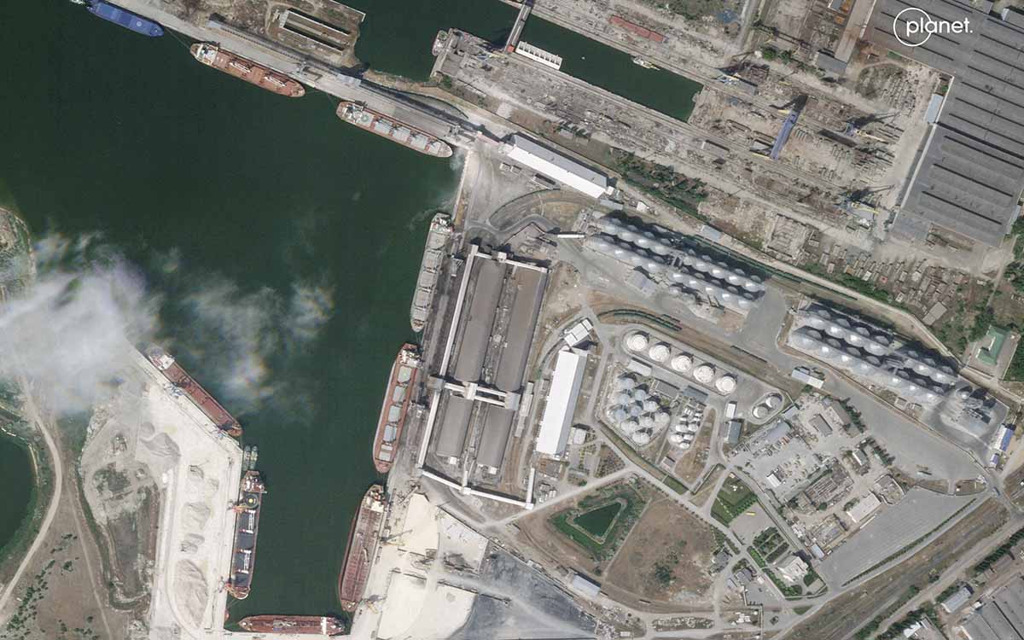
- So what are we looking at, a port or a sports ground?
port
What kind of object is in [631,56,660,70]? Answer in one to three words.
boat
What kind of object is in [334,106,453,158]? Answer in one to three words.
ship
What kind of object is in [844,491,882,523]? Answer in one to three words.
building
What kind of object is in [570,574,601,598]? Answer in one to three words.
shed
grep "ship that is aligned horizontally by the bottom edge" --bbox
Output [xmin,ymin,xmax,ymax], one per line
[238,614,346,635]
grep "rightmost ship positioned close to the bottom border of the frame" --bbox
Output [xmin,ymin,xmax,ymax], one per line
[341,482,384,612]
